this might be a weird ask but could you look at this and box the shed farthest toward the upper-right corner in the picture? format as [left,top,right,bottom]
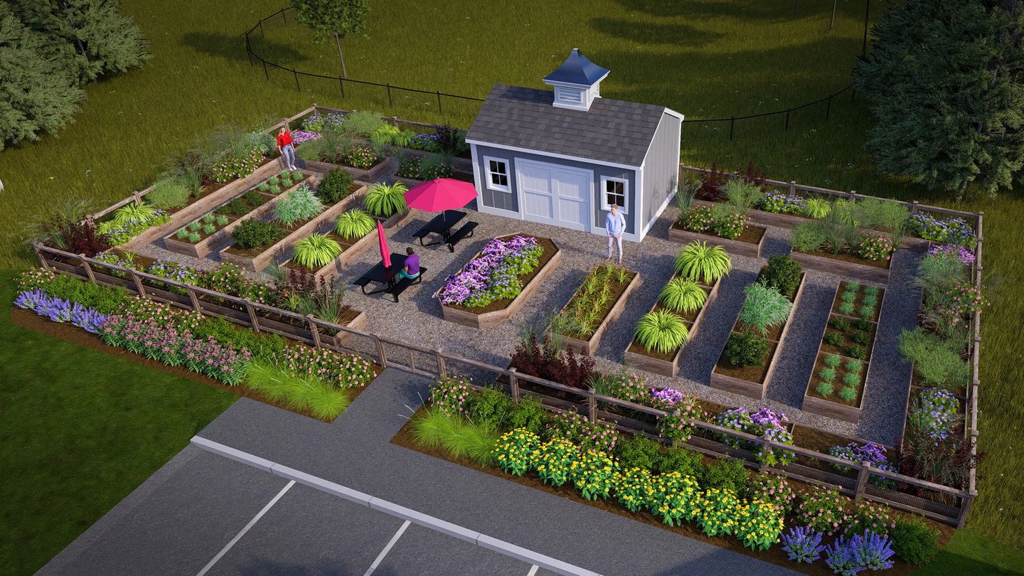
[463,47,685,243]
